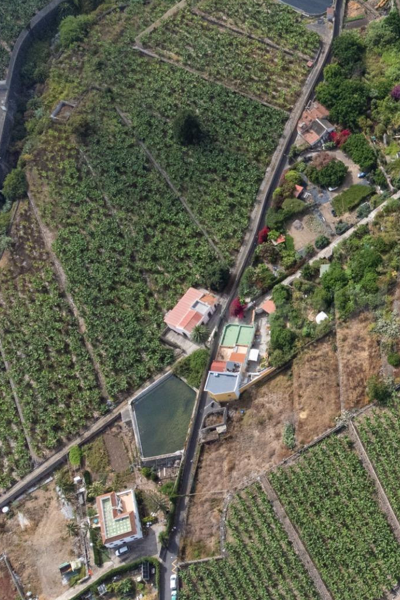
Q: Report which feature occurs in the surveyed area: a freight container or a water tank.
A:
water tank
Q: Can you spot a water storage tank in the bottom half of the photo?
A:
Yes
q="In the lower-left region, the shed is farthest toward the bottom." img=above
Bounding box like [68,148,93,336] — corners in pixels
[59,557,85,578]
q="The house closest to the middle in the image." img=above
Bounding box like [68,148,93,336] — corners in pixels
[164,287,219,339]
